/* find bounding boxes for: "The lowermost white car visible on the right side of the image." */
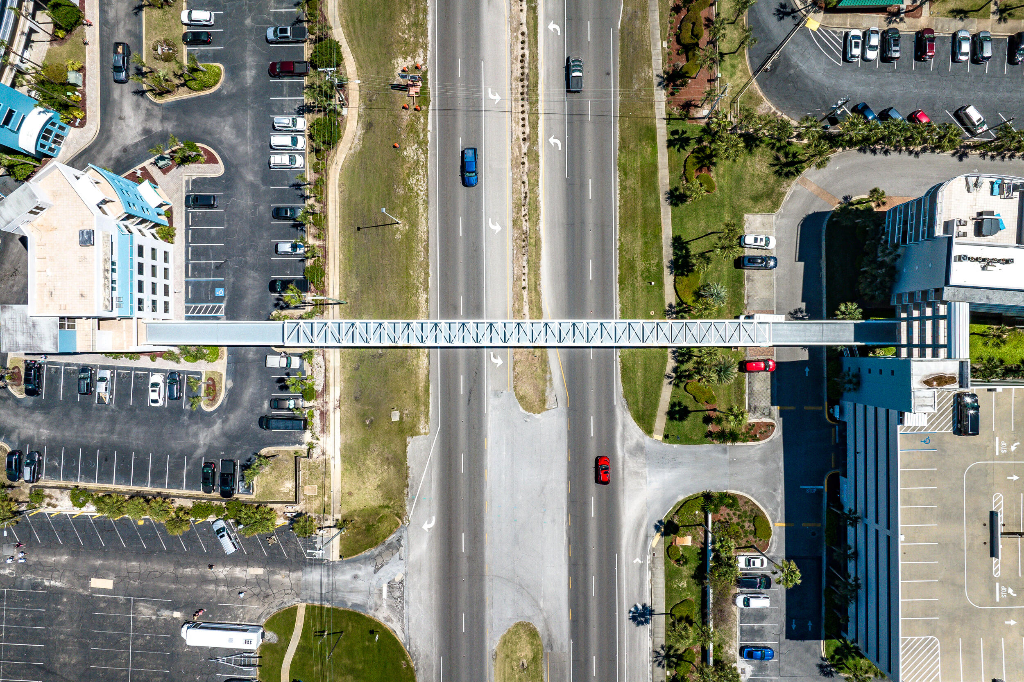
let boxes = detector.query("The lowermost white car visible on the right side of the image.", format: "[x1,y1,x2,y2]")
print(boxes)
[737,592,770,610]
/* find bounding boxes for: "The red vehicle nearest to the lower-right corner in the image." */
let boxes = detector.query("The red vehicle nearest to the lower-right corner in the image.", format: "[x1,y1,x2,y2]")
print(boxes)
[743,358,775,374]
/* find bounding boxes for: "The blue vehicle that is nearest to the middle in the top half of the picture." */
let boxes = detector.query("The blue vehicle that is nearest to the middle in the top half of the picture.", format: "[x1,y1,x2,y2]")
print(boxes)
[462,147,479,187]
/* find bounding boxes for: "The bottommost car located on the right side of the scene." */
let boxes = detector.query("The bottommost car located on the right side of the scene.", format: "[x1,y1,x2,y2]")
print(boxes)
[741,645,773,663]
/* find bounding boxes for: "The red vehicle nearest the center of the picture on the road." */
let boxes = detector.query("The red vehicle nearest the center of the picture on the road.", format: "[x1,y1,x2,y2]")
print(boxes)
[595,455,611,484]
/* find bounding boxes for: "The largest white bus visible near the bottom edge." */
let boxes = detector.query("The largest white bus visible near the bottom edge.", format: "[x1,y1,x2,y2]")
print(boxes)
[184,620,264,649]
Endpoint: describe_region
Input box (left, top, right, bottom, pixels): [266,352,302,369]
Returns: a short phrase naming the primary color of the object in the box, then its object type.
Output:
white vehicle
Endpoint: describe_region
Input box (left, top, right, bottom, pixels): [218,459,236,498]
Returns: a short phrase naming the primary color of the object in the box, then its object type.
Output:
black vehicle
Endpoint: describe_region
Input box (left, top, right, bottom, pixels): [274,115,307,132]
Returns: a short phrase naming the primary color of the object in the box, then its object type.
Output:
white car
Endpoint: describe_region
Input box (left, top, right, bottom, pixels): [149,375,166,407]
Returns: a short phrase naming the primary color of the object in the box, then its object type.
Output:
white car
